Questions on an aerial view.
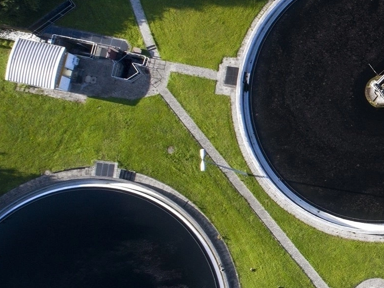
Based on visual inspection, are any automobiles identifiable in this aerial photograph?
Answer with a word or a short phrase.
No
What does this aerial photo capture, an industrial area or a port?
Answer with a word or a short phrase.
industrial area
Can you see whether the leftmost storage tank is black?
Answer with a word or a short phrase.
Yes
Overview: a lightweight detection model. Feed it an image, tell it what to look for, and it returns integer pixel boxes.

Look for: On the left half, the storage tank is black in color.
[0,168,243,288]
